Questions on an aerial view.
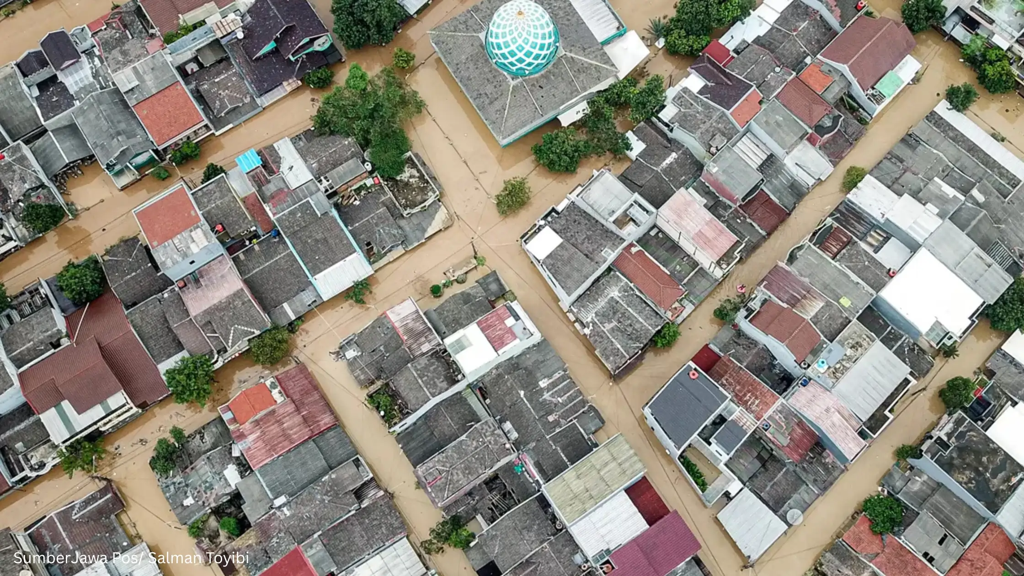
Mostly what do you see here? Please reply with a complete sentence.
The bulk of the photo consists of buildings.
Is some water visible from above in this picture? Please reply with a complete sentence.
Yes, water shows up in the scene.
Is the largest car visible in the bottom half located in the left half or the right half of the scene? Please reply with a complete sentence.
You can find the largest car visible in the bottom half on the right side of the picture.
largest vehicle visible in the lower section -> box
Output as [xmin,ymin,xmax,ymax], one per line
[970,394,994,421]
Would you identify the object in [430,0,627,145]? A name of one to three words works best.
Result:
building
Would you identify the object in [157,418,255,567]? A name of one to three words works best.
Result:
house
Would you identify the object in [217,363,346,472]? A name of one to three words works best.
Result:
house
